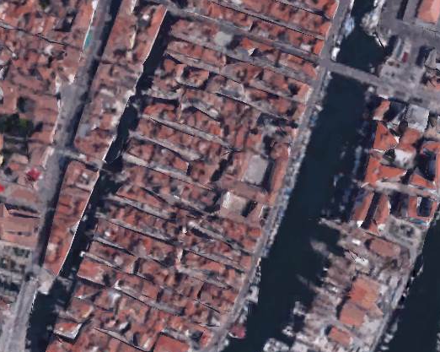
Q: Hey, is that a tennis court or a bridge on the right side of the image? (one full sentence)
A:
Looking on the right side of the image, you will find a bridge.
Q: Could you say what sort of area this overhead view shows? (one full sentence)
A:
The picture captures a residential area.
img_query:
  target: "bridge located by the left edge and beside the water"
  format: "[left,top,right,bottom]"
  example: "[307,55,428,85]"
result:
[14,274,41,309]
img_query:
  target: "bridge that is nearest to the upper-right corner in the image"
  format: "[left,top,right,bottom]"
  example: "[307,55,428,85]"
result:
[323,56,376,87]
